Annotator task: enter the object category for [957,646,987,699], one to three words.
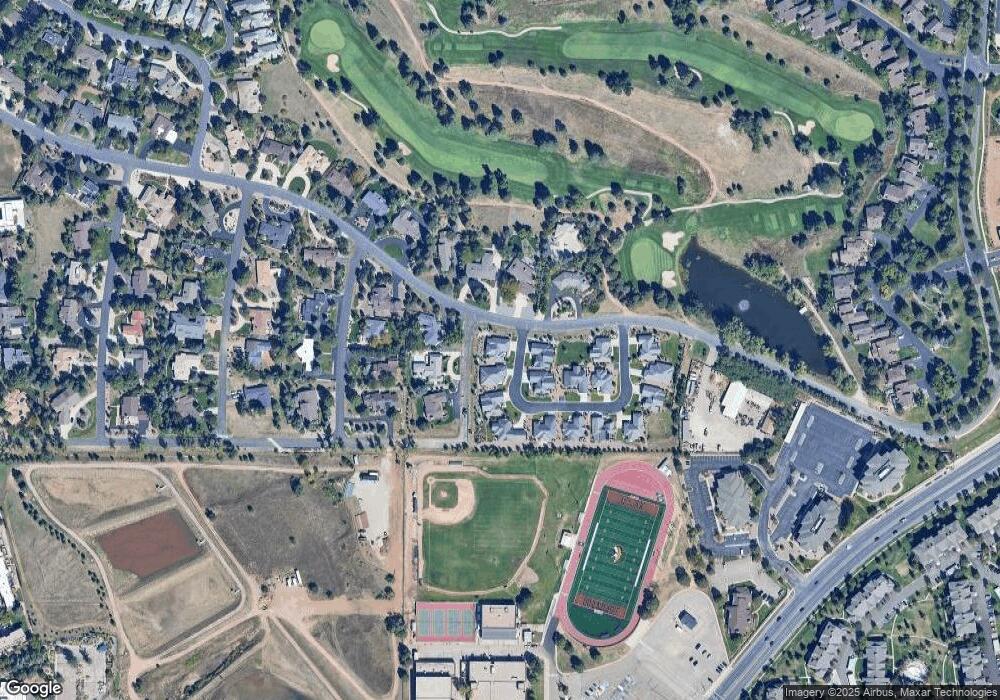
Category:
building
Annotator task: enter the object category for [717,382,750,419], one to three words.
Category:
shed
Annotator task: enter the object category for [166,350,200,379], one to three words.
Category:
house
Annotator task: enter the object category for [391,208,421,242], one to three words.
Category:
house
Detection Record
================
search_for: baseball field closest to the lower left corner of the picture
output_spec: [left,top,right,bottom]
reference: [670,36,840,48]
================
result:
[418,462,547,594]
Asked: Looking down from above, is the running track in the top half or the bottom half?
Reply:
bottom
